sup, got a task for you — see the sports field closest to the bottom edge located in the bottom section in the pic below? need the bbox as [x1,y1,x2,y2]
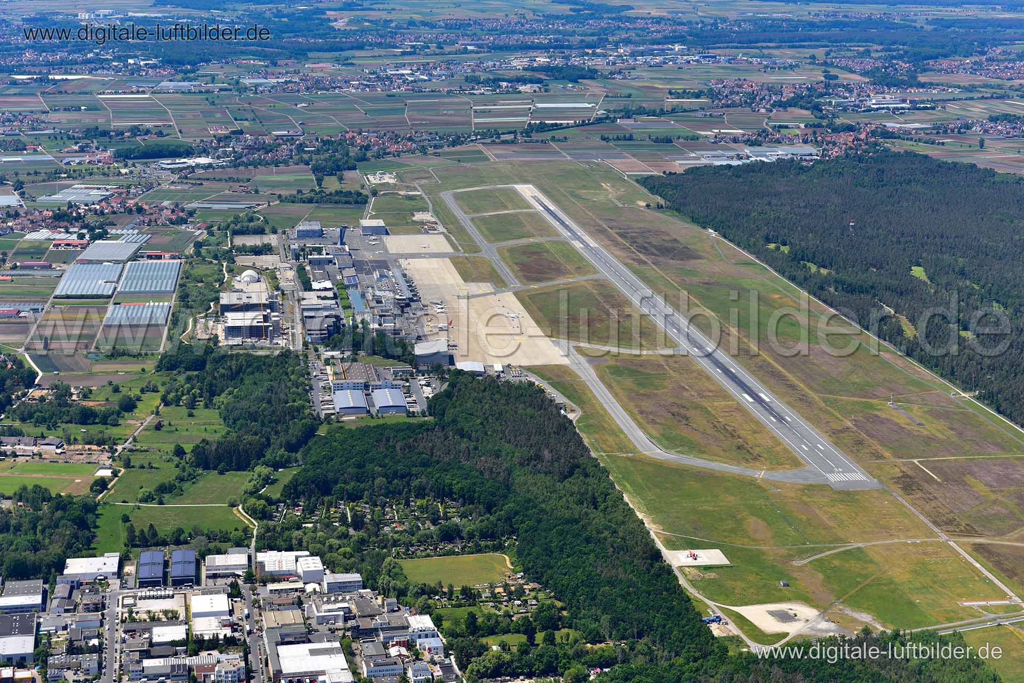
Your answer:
[398,555,511,590]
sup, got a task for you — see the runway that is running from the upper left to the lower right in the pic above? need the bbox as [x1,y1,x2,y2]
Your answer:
[510,184,884,491]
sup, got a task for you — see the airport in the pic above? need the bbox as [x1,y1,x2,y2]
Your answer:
[319,159,1024,683]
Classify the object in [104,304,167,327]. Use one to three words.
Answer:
greenhouse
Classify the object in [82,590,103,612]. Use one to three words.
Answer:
house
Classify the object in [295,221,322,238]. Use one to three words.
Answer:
hangar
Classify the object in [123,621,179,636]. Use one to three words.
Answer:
building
